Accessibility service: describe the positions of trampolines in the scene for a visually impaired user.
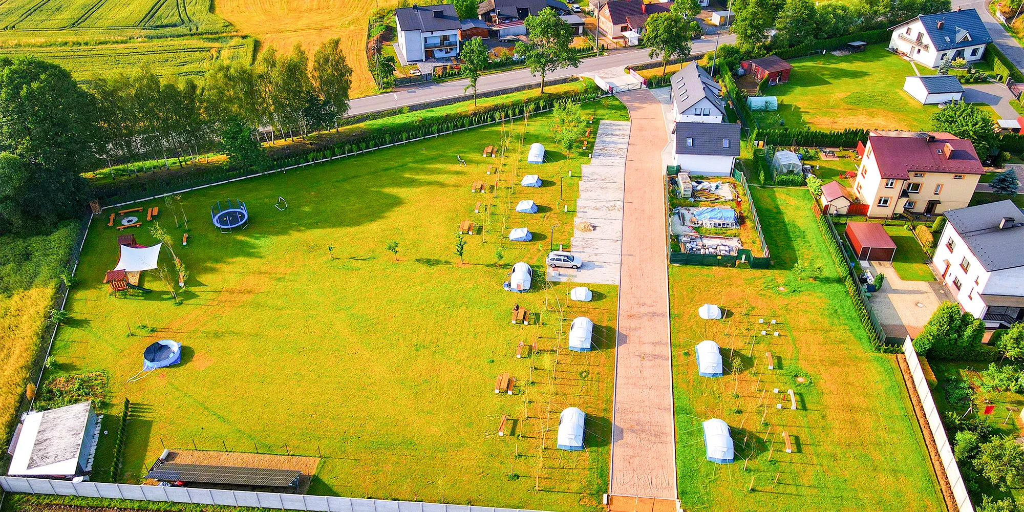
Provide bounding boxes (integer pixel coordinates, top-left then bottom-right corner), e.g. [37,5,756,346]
[207,202,248,235]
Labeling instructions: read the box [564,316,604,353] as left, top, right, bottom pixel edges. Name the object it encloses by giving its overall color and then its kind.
white tent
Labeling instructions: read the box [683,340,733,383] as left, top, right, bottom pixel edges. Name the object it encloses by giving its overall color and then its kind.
white tent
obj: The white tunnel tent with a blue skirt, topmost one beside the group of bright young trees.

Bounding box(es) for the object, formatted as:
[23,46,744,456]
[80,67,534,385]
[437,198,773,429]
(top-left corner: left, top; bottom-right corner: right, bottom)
[525,142,550,165]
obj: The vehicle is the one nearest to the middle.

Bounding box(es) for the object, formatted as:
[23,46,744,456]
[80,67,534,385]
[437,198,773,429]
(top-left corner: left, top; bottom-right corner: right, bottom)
[546,249,581,267]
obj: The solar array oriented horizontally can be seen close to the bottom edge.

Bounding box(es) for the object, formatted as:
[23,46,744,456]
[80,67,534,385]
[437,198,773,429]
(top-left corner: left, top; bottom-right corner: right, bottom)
[145,459,288,493]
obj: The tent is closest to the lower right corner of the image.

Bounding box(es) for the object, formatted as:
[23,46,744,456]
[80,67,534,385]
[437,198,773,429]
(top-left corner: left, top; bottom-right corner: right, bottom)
[690,417,746,478]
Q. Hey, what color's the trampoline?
blue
